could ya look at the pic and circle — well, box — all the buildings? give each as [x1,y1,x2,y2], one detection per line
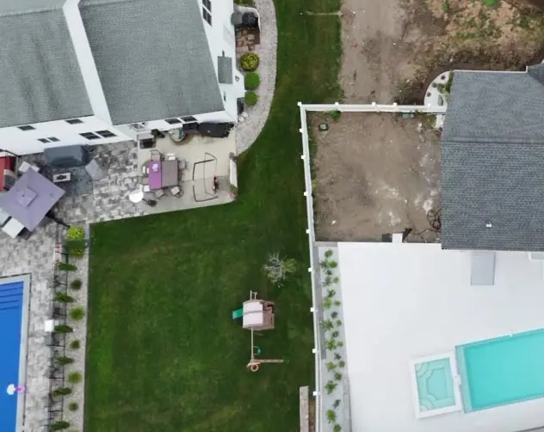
[0,0,244,156]
[440,61,544,256]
